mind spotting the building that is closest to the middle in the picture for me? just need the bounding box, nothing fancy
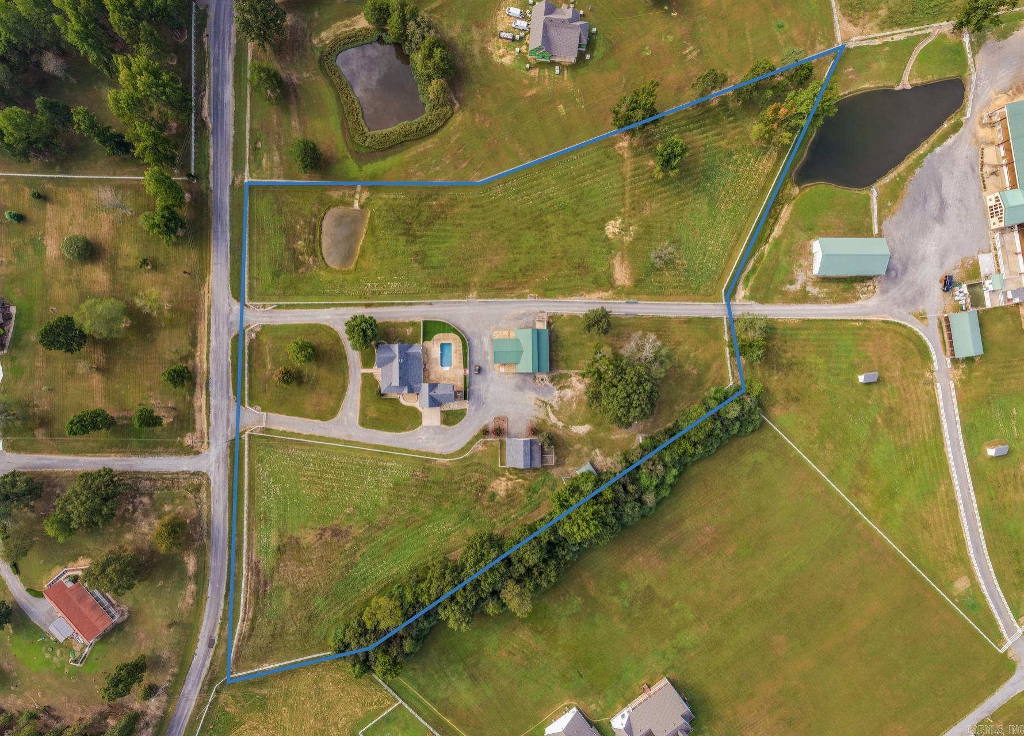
[494,329,549,373]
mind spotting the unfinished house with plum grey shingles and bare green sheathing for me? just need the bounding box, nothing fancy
[529,0,589,62]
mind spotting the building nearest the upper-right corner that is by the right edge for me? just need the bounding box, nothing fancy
[986,188,1024,230]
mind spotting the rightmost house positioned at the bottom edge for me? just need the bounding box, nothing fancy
[611,677,694,736]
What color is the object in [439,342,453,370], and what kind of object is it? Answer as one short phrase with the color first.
blue swimming pool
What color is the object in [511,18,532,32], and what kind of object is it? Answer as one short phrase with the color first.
white vehicle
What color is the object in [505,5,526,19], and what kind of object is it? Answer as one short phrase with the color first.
white vehicle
